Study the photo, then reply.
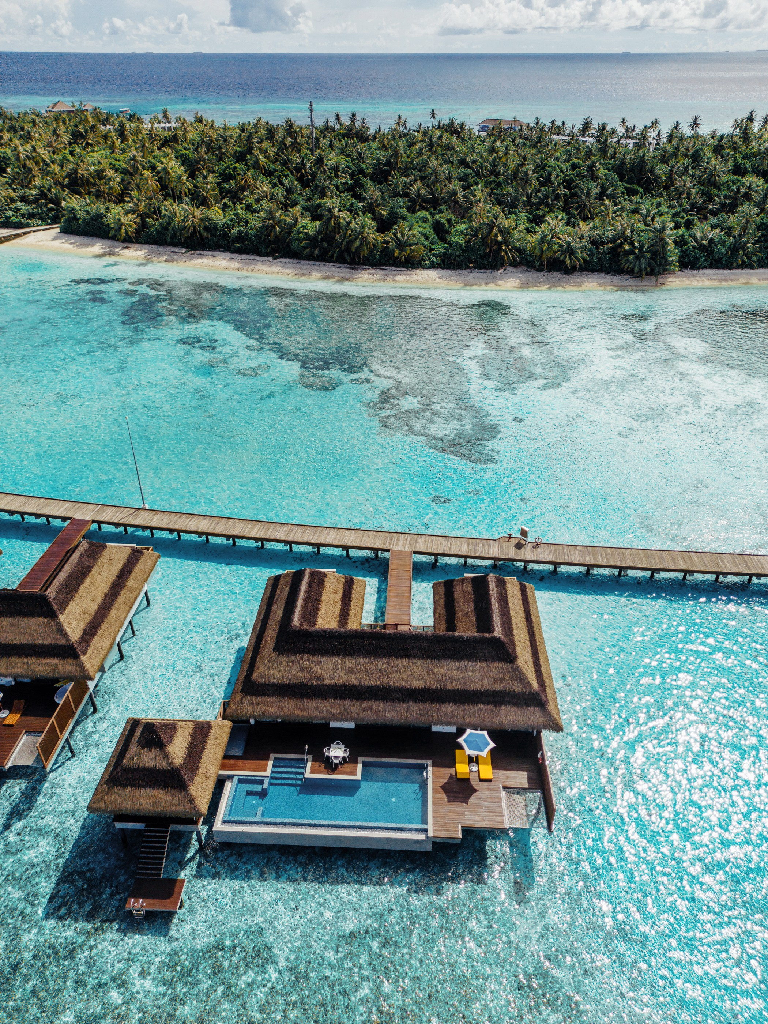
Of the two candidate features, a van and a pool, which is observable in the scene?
pool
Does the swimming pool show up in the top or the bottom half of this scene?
bottom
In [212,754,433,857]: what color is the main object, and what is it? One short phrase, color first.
blue swimming pool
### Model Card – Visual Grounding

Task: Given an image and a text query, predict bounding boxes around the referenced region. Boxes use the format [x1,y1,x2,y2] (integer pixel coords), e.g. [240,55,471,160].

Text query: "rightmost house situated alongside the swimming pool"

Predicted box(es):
[224,563,564,736]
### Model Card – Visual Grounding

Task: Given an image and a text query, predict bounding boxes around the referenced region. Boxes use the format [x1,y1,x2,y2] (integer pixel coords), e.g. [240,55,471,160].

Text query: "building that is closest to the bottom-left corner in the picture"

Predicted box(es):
[84,714,235,854]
